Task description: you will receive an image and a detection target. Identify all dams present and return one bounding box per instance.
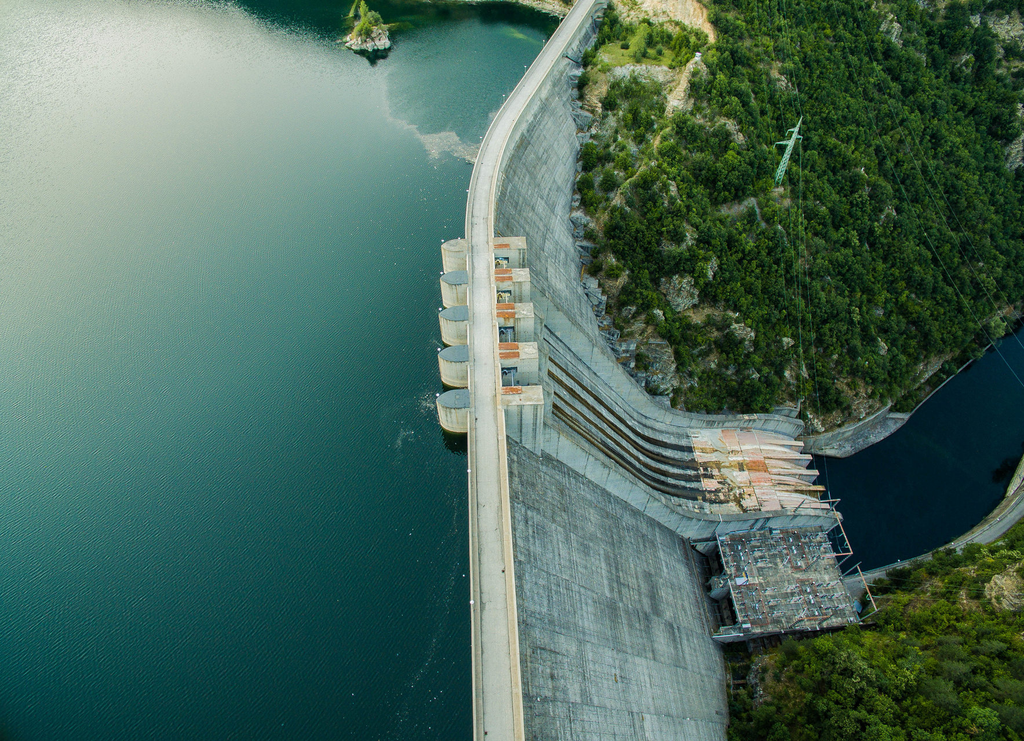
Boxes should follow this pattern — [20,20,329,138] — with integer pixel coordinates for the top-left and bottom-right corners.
[435,0,839,741]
